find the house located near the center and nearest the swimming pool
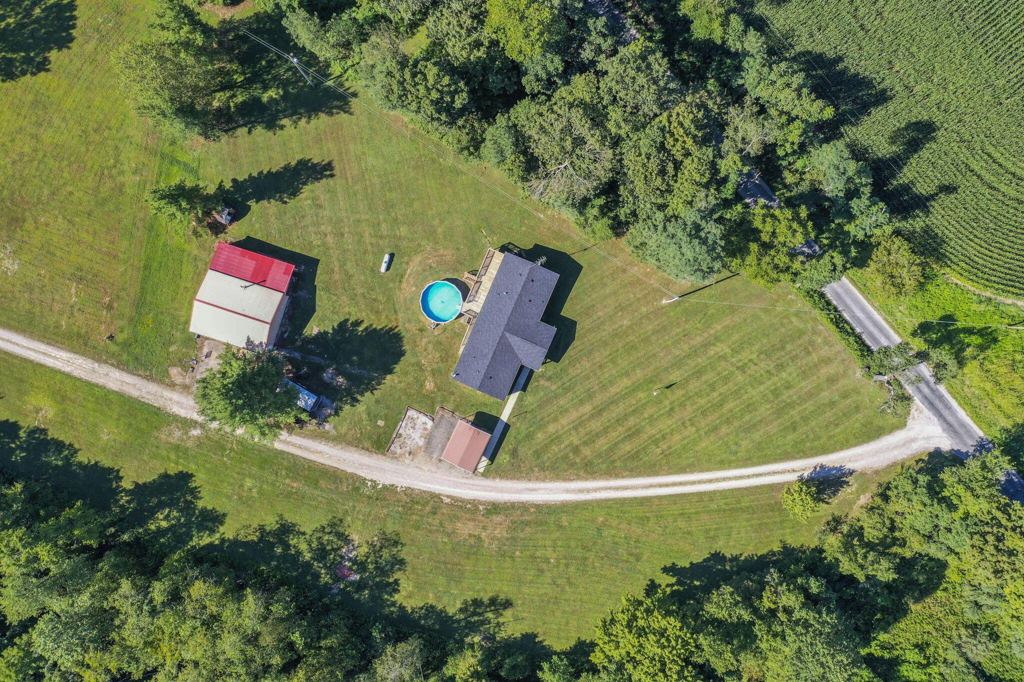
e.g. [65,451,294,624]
[450,247,560,401]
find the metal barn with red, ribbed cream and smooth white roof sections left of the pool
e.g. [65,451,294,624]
[190,241,298,354]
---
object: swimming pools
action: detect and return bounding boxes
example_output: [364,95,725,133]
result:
[420,280,463,323]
